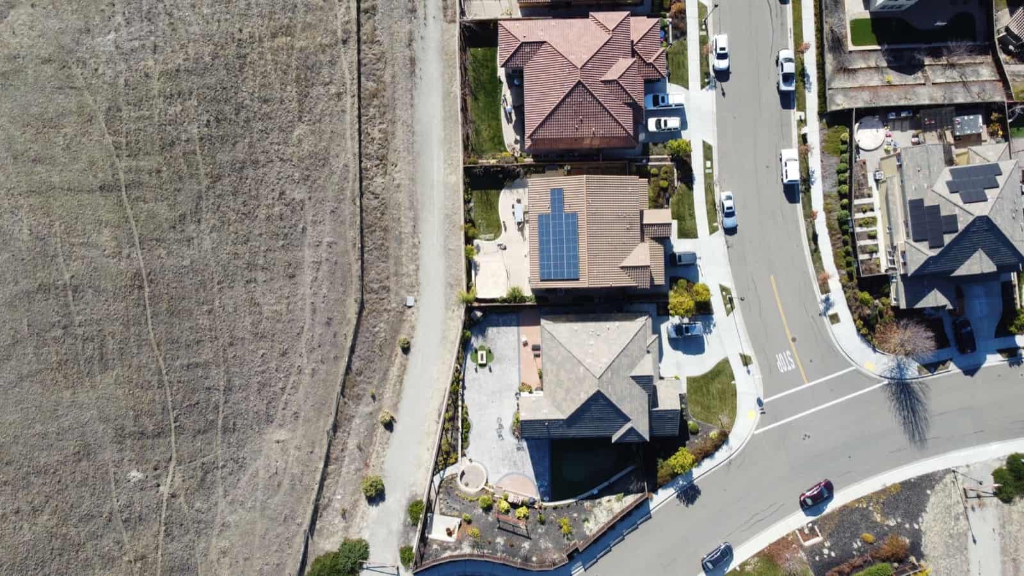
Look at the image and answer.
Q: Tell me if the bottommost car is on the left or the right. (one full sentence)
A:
The bottommost car is on the right side of the image.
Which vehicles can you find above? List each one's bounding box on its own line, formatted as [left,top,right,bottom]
[665,249,699,266]
[699,541,734,574]
[646,115,681,133]
[777,50,796,94]
[797,479,832,508]
[719,191,738,230]
[780,148,800,186]
[645,91,685,109]
[712,33,731,73]
[666,321,704,339]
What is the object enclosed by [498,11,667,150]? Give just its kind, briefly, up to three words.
house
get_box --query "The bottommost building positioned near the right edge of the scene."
[877,142,1024,309]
